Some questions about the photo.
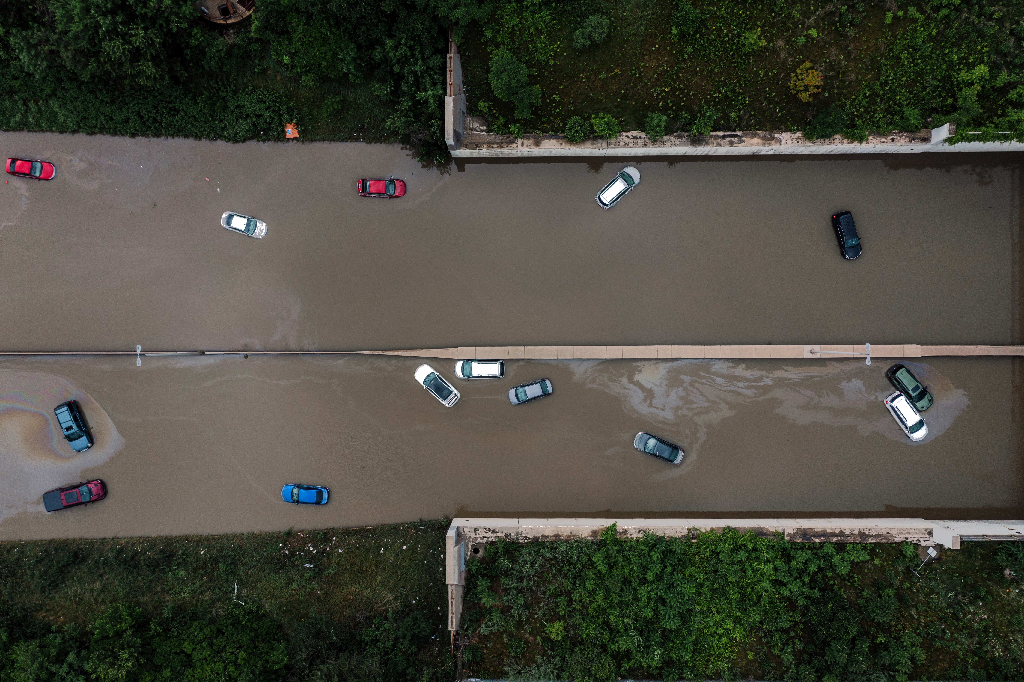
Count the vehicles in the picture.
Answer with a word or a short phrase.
14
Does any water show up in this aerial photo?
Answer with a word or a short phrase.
Yes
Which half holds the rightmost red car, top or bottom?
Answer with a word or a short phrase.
top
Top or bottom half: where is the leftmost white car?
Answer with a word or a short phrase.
top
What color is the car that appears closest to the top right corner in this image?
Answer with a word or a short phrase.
black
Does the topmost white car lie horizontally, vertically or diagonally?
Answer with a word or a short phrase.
diagonally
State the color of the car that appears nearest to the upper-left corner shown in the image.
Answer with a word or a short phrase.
red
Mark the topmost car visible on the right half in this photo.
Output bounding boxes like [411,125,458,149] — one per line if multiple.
[595,166,640,210]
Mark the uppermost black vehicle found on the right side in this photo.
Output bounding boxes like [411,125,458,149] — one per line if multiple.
[830,211,862,260]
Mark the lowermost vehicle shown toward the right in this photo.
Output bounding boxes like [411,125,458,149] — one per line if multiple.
[633,431,684,465]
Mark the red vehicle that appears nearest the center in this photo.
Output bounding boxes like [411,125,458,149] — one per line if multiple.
[353,176,406,199]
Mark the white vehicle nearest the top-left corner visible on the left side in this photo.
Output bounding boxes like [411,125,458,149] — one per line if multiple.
[222,211,269,239]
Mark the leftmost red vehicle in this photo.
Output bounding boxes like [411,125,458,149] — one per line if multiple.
[7,157,58,181]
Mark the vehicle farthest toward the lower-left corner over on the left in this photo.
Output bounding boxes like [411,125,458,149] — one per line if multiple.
[43,480,109,512]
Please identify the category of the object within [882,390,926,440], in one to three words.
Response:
car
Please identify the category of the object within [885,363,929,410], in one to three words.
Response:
car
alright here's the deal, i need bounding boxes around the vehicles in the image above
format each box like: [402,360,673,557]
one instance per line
[222,211,269,239]
[595,166,640,210]
[885,363,929,410]
[283,483,330,507]
[415,363,462,409]
[508,378,553,405]
[455,359,504,382]
[633,431,684,465]
[54,401,94,451]
[353,176,406,199]
[43,480,109,512]
[830,211,862,260]
[7,157,58,181]
[882,390,926,440]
